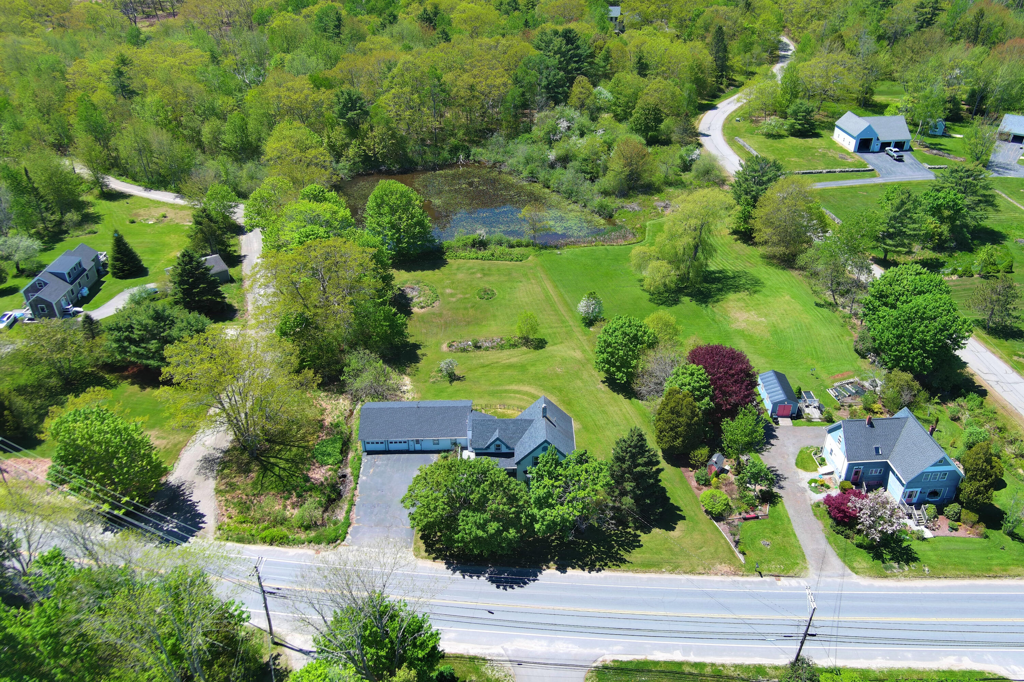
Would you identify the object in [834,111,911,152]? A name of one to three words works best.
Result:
building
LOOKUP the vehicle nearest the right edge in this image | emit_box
[881,147,907,159]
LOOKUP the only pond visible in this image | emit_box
[328,164,609,258]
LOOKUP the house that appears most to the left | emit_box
[18,240,112,318]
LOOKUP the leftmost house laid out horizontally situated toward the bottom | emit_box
[359,393,576,485]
